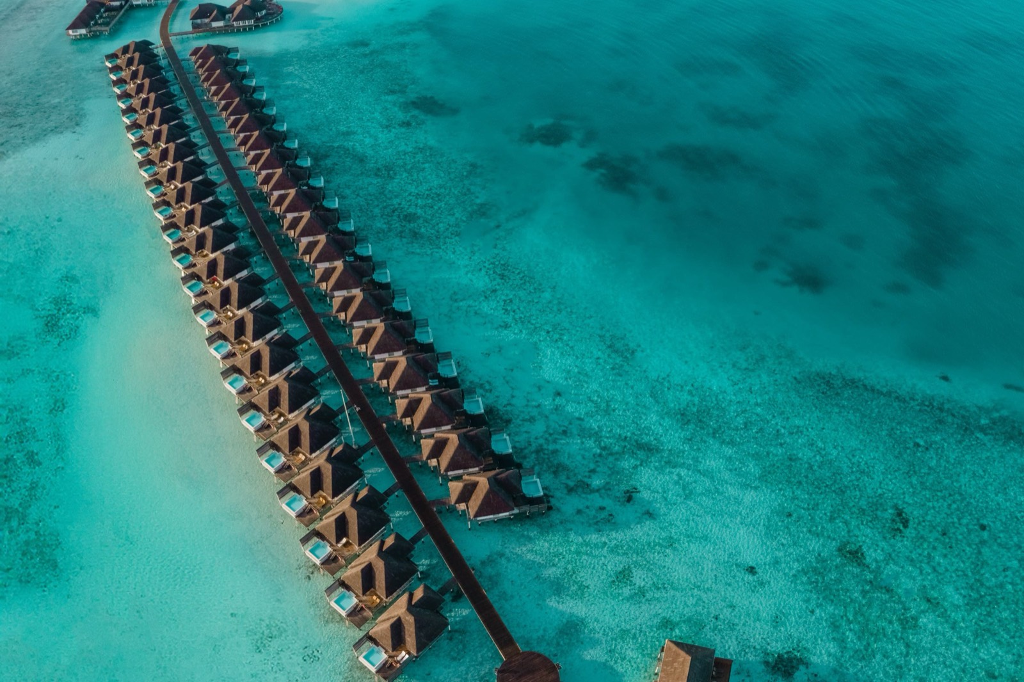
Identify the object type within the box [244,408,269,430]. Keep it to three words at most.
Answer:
swimming pool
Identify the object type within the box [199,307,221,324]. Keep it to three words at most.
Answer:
swimming pool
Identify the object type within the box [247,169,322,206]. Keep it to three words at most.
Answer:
house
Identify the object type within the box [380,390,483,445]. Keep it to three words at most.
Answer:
house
